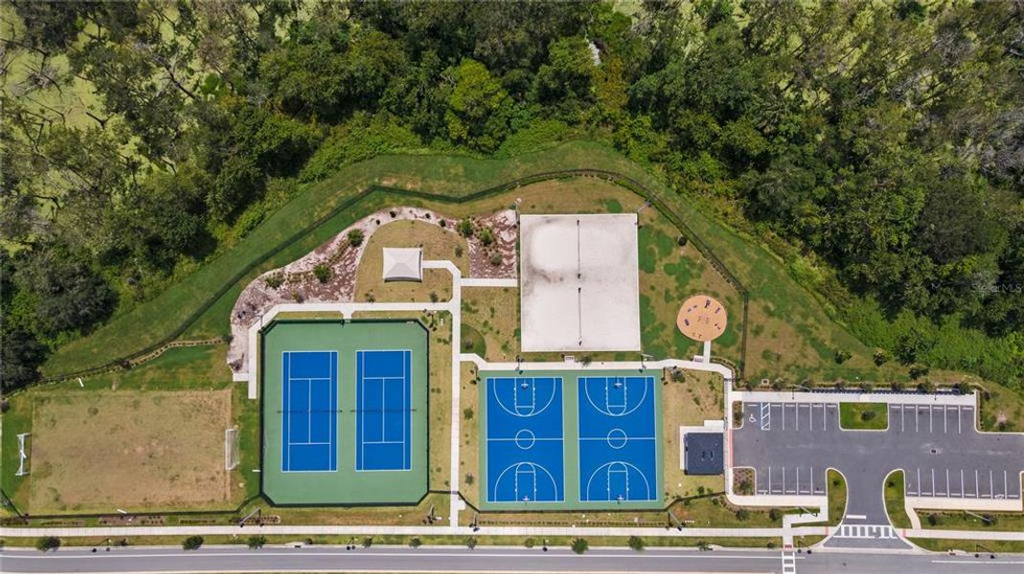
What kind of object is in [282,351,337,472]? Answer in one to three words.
tennis court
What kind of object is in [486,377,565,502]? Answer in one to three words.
basketball court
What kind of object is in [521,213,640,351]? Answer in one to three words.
sports court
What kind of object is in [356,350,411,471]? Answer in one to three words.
tennis court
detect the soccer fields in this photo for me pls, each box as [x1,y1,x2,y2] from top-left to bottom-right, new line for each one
[30,388,231,512]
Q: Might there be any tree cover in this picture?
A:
Yes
